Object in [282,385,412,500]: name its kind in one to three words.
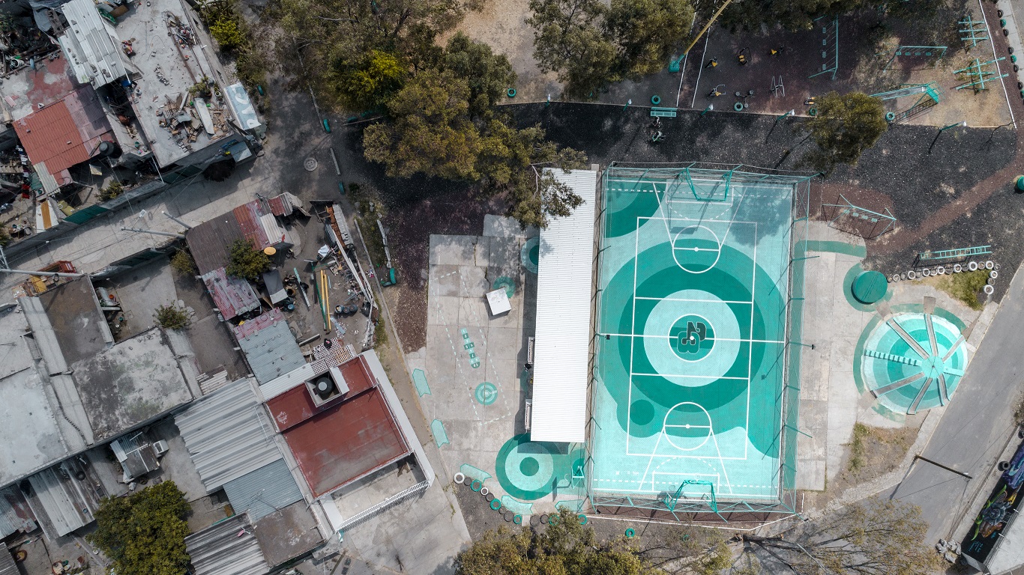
house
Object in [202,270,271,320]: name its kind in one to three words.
shed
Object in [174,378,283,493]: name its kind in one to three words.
shed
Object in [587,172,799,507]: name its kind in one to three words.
sports court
